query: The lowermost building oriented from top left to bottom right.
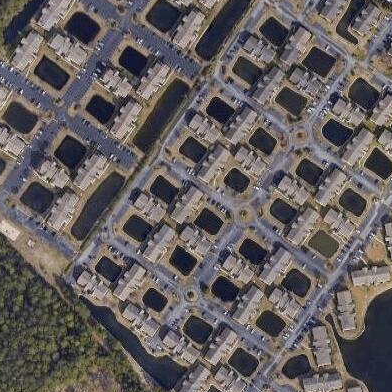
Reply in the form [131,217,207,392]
[211,363,248,392]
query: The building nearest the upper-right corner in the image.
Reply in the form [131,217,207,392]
[351,0,383,37]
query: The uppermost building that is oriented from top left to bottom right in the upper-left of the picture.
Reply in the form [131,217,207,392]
[50,31,87,66]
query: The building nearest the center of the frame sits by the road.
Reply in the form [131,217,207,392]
[170,185,203,223]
